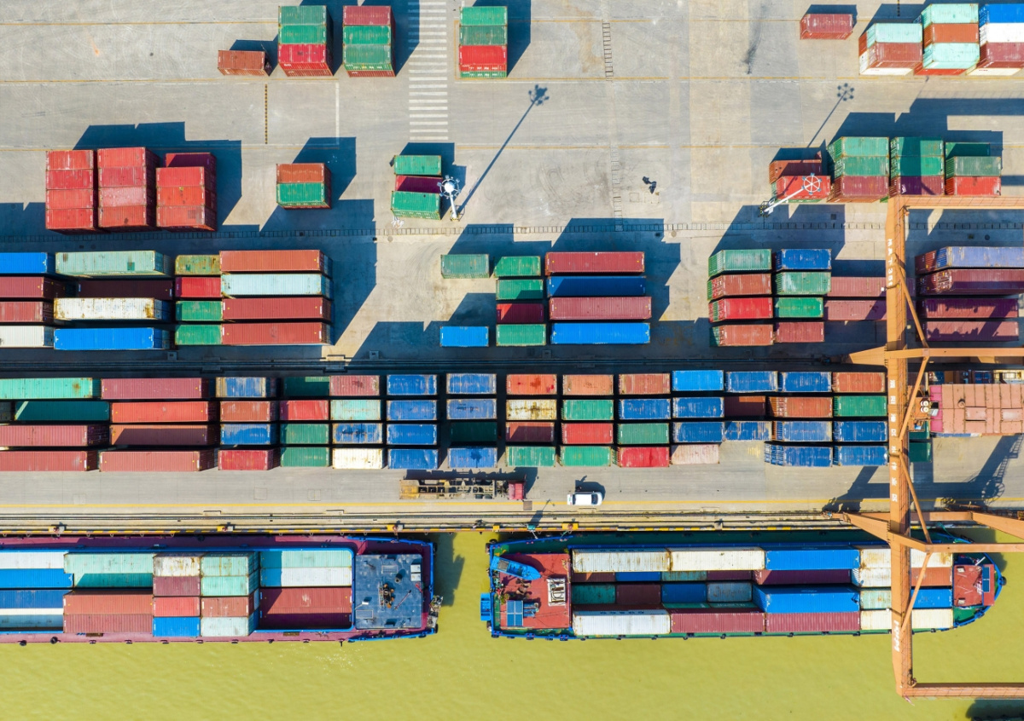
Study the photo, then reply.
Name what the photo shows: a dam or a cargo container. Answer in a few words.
cargo container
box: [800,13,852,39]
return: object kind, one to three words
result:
shipping container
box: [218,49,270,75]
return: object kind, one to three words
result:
shipping container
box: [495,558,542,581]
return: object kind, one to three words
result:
boat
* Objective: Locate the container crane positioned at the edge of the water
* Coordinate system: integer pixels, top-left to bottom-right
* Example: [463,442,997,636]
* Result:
[814,194,1024,701]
